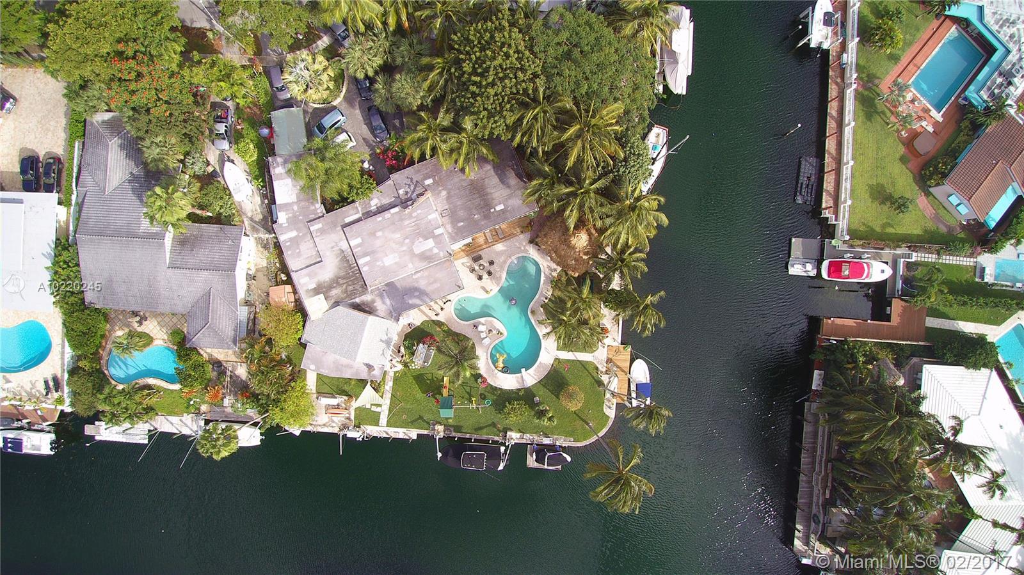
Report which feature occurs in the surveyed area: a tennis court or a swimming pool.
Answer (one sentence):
Of the two, only a swimming pool appears.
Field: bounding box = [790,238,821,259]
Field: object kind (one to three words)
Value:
pier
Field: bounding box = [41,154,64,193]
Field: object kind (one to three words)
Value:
car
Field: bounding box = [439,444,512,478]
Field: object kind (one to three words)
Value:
boat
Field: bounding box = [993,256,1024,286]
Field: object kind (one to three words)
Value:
swimming pool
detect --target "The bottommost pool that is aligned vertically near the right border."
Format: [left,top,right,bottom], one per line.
[994,319,1024,399]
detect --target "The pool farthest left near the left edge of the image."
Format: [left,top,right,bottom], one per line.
[0,318,54,376]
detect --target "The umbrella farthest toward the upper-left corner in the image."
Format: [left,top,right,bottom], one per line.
[257,125,271,138]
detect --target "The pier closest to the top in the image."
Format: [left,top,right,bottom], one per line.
[796,157,821,204]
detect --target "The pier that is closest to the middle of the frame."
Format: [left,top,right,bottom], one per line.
[607,346,630,402]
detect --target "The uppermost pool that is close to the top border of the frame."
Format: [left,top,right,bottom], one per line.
[908,22,988,116]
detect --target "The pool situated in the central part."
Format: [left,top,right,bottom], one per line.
[450,252,545,377]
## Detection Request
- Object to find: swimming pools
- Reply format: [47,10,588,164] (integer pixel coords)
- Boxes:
[0,318,54,376]
[908,22,988,116]
[994,319,1024,399]
[450,252,545,377]
[104,342,183,387]
[993,256,1024,286]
